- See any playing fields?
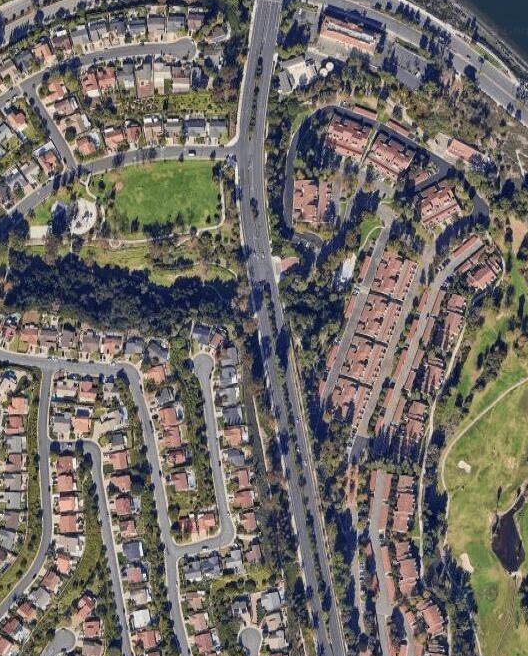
Yes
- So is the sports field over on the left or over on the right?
left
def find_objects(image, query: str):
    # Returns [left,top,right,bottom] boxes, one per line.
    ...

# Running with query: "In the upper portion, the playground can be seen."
[71,198,97,234]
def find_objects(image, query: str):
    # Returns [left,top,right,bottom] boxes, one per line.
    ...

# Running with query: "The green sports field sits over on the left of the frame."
[109,160,218,228]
